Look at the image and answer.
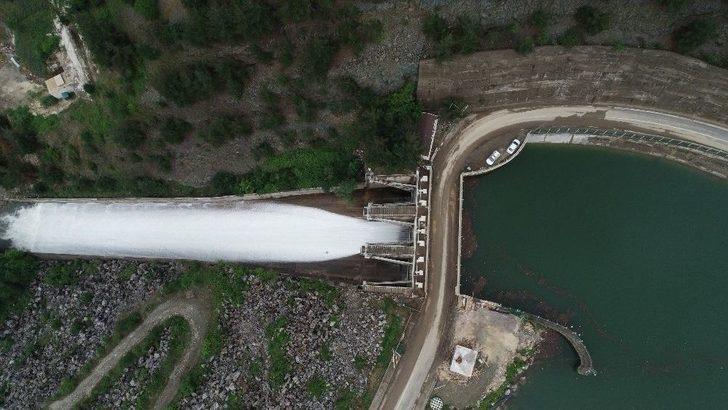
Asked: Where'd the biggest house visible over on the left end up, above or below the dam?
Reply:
above it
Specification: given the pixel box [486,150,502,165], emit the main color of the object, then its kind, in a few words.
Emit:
white car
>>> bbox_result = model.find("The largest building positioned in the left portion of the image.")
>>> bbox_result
[45,73,77,100]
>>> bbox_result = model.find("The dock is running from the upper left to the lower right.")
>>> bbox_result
[463,297,594,375]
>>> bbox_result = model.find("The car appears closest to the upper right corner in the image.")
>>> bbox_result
[506,139,523,154]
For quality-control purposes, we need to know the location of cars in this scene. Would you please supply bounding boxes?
[506,139,523,154]
[486,150,502,165]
